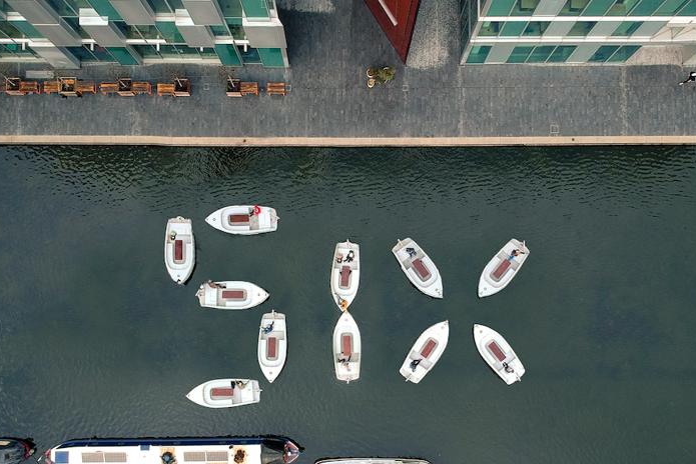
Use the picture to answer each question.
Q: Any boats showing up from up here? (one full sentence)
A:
Yes, this view includes a boat.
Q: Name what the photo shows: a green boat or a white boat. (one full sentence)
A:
I can see a white boat in this picture.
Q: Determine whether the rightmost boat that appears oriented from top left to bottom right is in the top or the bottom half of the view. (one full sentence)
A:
The rightmost boat that appears oriented from top left to bottom right is in the bottom half of the image.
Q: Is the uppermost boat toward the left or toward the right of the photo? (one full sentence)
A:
It is on the left.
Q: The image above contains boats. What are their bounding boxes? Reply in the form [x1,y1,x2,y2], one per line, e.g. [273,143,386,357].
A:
[401,320,449,383]
[477,238,529,298]
[206,205,280,234]
[198,280,269,309]
[189,379,263,409]
[166,214,195,285]
[47,435,311,464]
[331,241,361,312]
[474,323,525,385]
[333,311,362,383]
[392,238,444,299]
[258,310,287,383]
